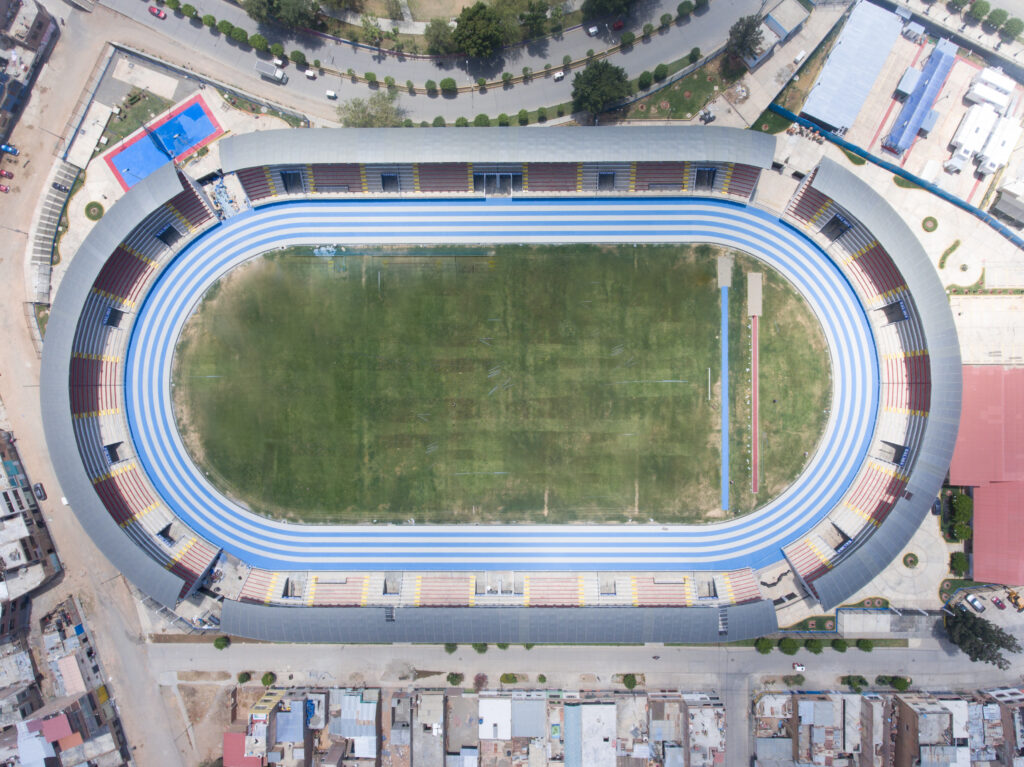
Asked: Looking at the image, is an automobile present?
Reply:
Yes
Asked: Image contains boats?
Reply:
No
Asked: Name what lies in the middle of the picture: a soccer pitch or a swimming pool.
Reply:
soccer pitch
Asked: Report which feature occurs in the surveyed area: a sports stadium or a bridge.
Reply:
sports stadium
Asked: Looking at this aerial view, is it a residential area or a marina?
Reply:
residential area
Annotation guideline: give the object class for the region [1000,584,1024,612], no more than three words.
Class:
work vehicle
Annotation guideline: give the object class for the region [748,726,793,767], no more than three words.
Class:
house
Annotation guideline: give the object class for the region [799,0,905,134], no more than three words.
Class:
building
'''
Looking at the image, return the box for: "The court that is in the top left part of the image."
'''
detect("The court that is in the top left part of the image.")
[104,94,223,192]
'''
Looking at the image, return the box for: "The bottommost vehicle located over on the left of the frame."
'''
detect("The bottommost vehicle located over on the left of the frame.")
[207,612,222,625]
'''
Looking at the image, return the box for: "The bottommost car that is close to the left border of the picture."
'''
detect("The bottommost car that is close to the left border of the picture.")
[33,481,49,502]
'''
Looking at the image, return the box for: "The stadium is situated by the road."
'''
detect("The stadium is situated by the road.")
[40,127,961,643]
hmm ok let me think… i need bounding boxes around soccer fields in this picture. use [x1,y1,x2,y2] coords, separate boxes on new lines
[170,244,833,524]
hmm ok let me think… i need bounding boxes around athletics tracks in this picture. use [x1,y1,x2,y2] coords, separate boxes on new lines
[124,193,879,575]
